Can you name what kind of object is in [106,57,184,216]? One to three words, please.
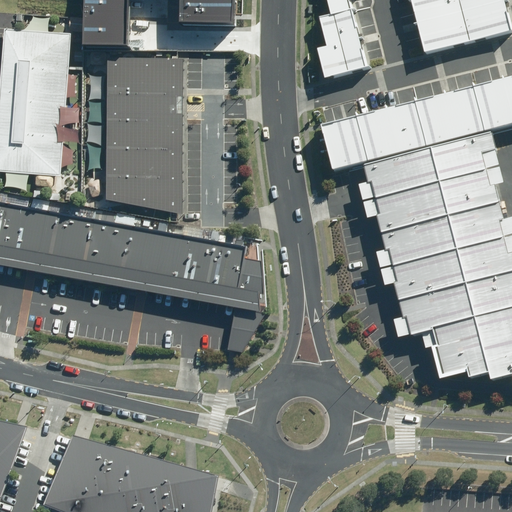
building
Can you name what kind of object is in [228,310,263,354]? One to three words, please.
building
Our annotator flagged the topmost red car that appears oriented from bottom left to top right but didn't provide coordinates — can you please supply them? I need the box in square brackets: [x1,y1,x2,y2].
[362,324,378,338]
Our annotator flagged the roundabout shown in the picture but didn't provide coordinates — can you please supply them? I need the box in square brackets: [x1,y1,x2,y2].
[226,356,390,486]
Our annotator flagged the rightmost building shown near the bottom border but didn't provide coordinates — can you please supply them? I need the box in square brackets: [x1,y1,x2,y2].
[44,436,218,512]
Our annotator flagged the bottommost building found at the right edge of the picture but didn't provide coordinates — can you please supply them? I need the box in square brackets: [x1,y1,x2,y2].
[358,130,512,380]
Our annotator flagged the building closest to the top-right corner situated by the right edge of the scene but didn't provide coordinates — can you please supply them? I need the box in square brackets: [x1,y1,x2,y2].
[408,0,512,54]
